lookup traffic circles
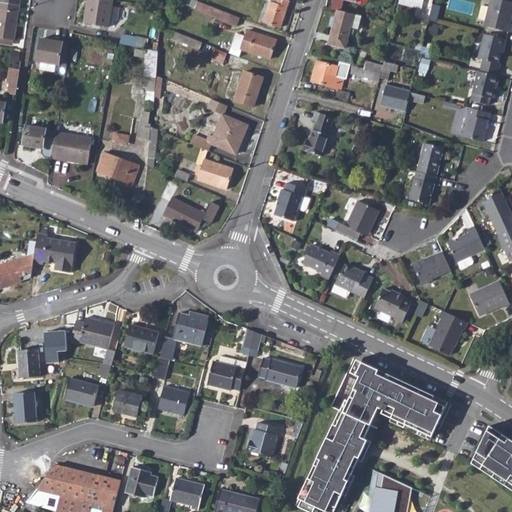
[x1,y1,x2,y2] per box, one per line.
[198,248,256,306]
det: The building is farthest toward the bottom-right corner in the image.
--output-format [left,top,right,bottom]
[470,426,512,493]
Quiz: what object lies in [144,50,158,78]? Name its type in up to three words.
shed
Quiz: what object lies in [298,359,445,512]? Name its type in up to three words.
building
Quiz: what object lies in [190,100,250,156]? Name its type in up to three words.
house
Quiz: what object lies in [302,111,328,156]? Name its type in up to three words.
house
